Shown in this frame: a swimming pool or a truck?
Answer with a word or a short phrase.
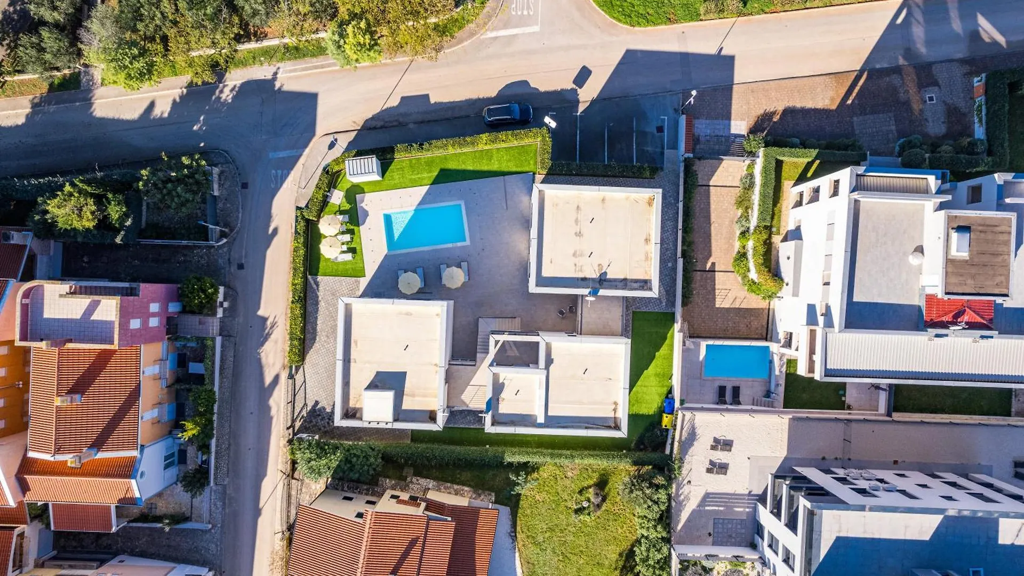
swimming pool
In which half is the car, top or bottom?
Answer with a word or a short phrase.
top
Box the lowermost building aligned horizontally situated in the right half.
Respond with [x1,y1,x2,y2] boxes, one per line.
[750,466,1024,576]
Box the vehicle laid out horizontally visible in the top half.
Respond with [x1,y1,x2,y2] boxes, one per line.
[483,101,534,127]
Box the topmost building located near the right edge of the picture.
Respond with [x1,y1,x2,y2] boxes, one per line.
[777,167,1024,388]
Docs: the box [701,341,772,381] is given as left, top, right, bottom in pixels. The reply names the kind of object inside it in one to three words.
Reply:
swimming pool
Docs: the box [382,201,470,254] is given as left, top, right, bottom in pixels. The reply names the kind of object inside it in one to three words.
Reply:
swimming pool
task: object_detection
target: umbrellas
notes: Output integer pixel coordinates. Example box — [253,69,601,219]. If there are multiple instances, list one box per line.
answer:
[398,271,421,295]
[320,213,343,237]
[321,236,345,259]
[442,265,465,289]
